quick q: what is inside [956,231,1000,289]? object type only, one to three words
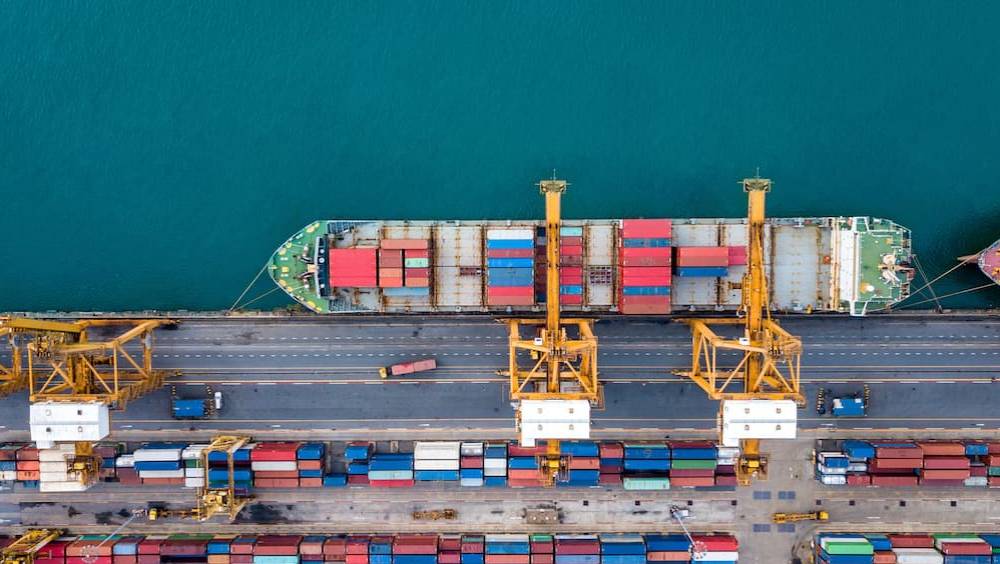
ship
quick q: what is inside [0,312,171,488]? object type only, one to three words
container crane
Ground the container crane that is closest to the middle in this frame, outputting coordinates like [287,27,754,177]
[490,180,617,487]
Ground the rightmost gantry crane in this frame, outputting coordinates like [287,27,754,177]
[670,168,814,487]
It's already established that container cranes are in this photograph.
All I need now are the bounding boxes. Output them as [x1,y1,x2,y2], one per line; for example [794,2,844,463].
[0,529,60,564]
[670,168,814,487]
[490,180,617,487]
[0,323,39,399]
[200,436,252,525]
[0,312,171,488]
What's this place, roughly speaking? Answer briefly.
port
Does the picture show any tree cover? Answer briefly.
No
